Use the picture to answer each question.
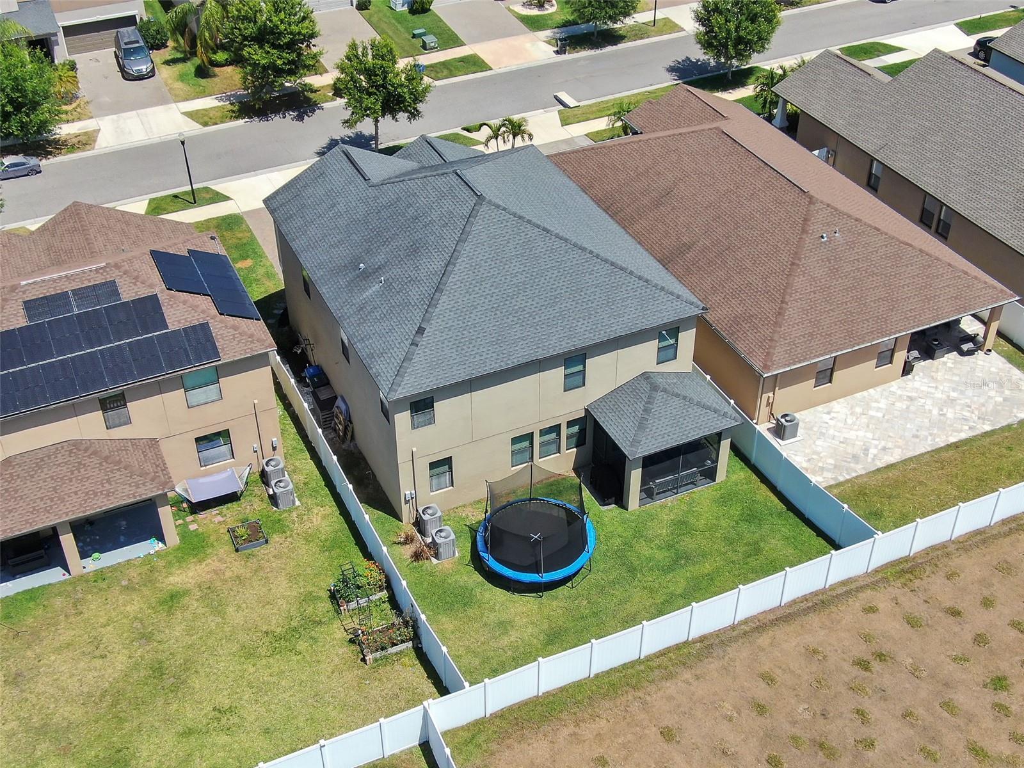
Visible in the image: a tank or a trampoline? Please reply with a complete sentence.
This aerial view contains a trampoline.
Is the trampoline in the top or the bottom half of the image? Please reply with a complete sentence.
The bottom half of the photo is where the trampoline is.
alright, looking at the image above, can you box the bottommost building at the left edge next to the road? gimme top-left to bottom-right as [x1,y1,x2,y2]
[0,202,279,603]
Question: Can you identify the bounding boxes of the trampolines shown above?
[475,461,601,603]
